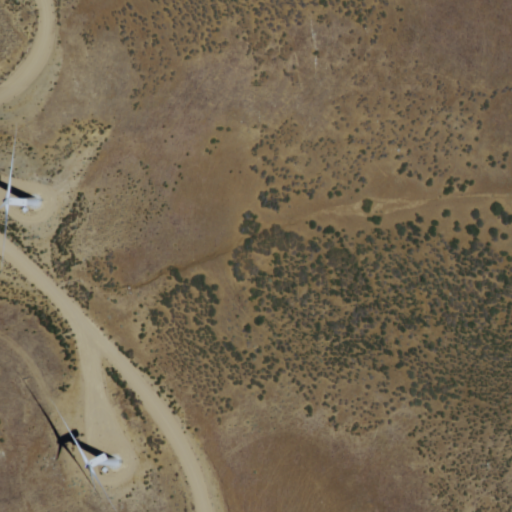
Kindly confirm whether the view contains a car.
No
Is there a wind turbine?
Yes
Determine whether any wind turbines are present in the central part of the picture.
No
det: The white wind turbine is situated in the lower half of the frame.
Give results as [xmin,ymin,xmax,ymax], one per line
[54,408,124,506]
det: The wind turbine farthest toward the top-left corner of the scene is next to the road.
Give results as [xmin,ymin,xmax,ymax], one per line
[0,134,46,245]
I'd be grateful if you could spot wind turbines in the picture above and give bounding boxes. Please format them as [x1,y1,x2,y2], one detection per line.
[0,134,46,245]
[54,408,124,506]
